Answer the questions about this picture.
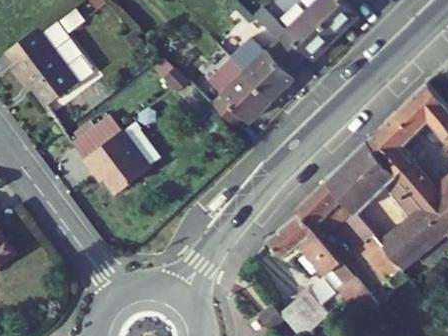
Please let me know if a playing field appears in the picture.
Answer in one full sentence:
No, there isn't any playing field down there.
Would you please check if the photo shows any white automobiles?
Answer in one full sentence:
Yes, I can see a white automobile in this picture.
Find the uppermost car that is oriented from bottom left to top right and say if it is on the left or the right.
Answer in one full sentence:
You can find the uppermost car that is oriented from bottom left to top right on the right side of the picture.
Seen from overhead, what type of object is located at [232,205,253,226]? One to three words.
car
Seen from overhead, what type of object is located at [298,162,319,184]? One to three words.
car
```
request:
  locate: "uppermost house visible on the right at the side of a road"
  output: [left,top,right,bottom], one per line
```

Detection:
[251,0,359,60]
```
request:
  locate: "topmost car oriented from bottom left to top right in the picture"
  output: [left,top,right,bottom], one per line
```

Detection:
[362,42,382,62]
